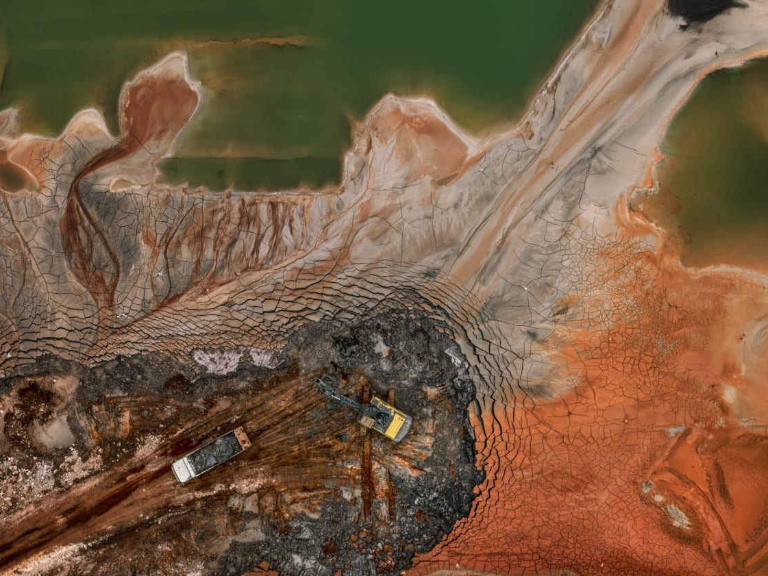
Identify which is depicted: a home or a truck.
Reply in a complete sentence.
There is a truck in the scene.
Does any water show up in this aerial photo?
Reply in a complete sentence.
Yes, the picture does contain water.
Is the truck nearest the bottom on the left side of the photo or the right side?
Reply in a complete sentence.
The truck nearest the bottom appears in the left half of the scene.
